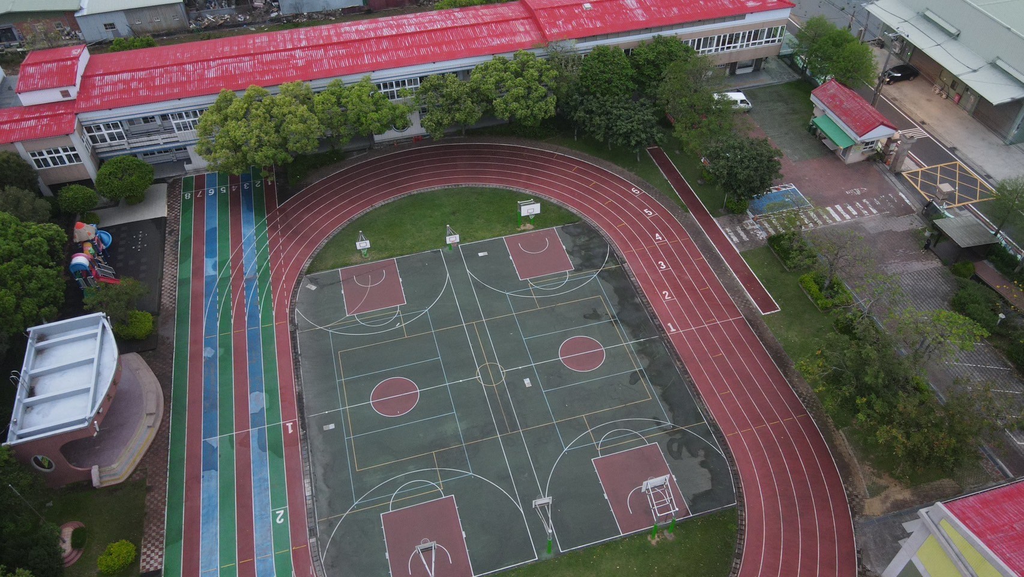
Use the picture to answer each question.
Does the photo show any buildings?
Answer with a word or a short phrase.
Yes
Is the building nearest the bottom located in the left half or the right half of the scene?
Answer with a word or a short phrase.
right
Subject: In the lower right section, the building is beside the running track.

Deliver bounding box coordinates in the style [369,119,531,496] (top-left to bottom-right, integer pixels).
[881,471,1024,577]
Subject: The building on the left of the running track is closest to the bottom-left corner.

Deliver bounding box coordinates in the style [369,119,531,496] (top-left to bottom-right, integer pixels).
[1,312,165,487]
